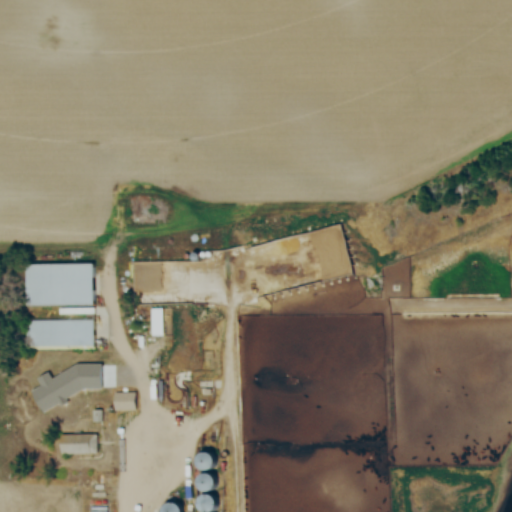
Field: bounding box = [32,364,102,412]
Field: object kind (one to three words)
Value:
house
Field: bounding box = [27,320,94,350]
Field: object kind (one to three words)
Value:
barn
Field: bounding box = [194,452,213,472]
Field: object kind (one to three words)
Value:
silo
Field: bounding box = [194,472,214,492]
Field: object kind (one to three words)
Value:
silo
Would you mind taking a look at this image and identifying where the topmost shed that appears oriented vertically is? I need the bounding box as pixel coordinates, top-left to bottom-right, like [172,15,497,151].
[150,308,164,337]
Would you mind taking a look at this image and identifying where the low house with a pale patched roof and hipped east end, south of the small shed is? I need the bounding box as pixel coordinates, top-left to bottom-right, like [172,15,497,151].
[59,434,98,456]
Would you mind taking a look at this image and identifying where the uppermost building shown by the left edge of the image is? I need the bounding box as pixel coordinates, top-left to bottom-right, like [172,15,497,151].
[25,264,94,306]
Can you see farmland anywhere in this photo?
Yes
